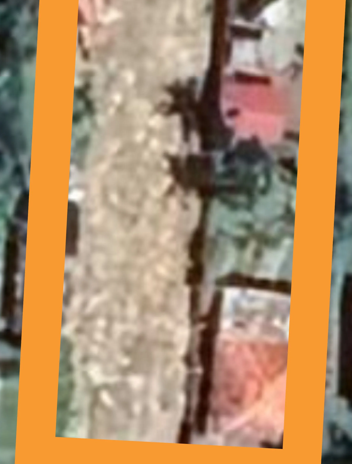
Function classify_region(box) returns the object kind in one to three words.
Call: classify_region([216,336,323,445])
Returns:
house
